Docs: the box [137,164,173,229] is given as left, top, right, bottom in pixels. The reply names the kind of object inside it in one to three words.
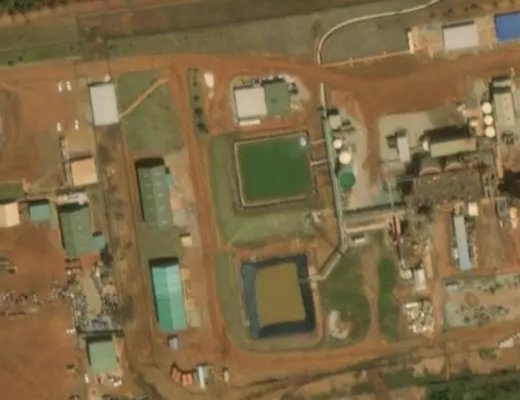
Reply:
building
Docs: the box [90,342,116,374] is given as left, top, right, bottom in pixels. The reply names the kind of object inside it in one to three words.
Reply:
shed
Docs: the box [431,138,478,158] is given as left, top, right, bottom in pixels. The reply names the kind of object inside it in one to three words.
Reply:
house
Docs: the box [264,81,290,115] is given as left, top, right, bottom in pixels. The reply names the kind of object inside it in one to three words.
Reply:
shed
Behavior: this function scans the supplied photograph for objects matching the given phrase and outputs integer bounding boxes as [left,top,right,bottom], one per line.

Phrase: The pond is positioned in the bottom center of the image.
[238,251,318,341]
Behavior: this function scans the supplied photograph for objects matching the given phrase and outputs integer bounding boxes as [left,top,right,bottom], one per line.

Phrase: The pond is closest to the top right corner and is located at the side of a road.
[232,130,317,211]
